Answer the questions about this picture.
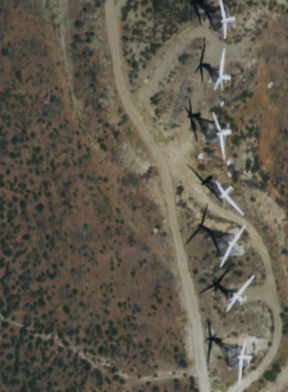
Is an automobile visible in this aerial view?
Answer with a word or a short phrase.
No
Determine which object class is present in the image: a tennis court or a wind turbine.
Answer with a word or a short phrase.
wind turbine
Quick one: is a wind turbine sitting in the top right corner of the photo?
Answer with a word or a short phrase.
Yes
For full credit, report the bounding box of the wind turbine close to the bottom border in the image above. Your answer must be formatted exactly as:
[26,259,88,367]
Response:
[226,338,254,386]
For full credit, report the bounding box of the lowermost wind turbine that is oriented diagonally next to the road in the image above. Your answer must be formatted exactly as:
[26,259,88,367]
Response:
[226,272,254,310]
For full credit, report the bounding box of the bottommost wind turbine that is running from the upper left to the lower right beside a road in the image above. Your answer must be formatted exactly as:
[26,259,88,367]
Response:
[212,182,245,216]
